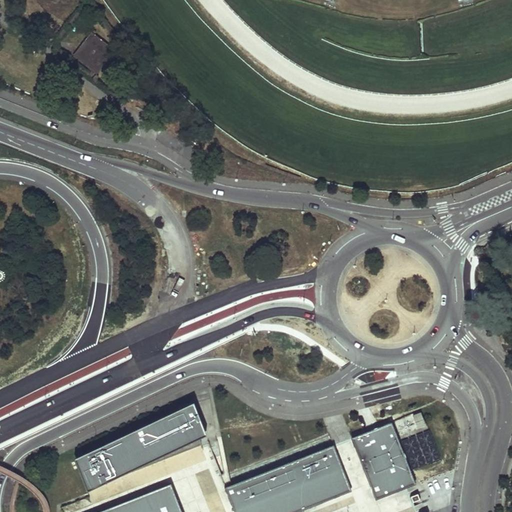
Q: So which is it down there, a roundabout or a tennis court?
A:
roundabout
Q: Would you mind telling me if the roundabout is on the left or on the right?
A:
right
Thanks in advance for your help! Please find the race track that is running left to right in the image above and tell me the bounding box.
[104,0,512,191]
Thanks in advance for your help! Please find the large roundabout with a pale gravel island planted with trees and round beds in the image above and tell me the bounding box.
[316,223,464,371]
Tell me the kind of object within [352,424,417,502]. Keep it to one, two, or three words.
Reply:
building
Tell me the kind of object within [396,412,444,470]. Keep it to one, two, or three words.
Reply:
building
